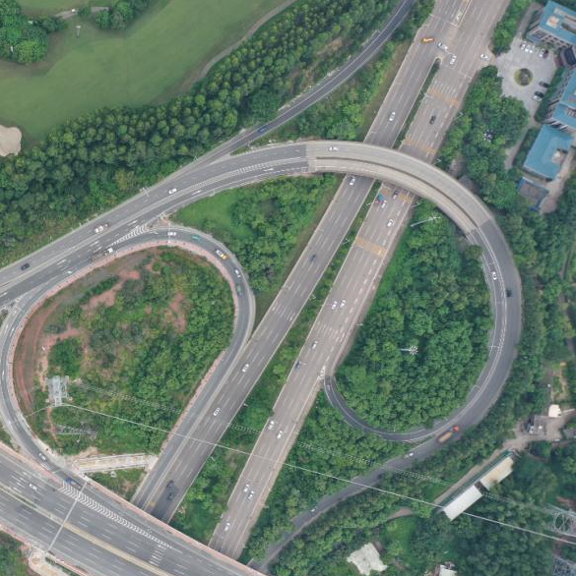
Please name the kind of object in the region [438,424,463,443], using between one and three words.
vehicle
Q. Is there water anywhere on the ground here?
No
